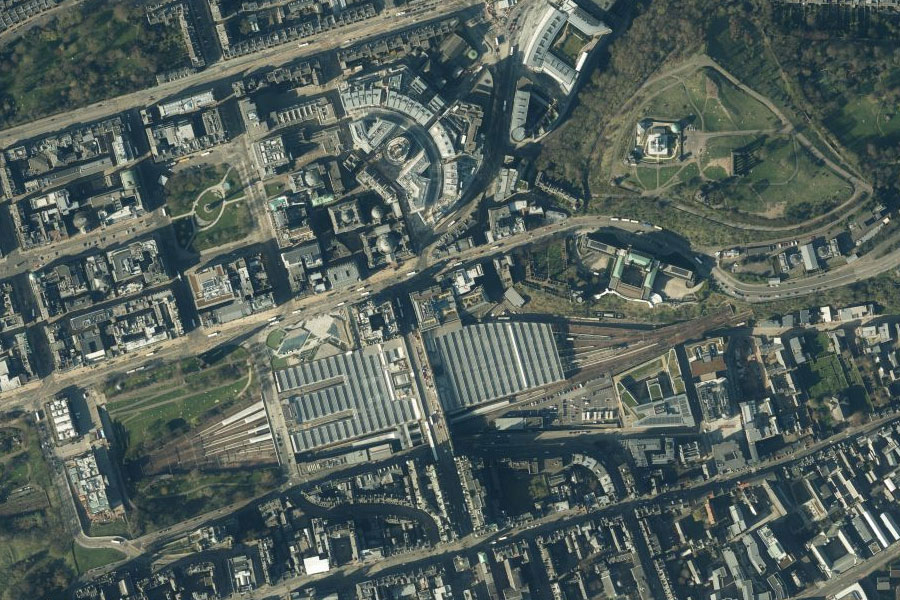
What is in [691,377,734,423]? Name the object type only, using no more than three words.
building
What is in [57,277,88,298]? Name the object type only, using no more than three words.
building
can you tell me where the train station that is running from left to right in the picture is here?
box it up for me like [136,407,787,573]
[166,316,657,470]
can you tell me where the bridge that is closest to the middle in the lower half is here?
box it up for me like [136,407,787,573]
[407,325,453,452]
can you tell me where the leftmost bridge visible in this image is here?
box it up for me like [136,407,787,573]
[261,383,292,473]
